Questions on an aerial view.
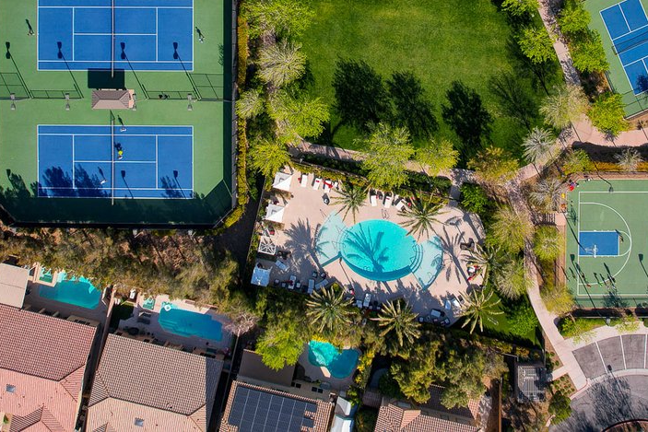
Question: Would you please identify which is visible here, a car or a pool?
pool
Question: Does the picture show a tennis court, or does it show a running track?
tennis court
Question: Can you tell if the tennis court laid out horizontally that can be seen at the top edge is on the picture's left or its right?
left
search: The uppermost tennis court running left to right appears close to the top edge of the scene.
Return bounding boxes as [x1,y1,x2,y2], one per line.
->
[0,0,235,98]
